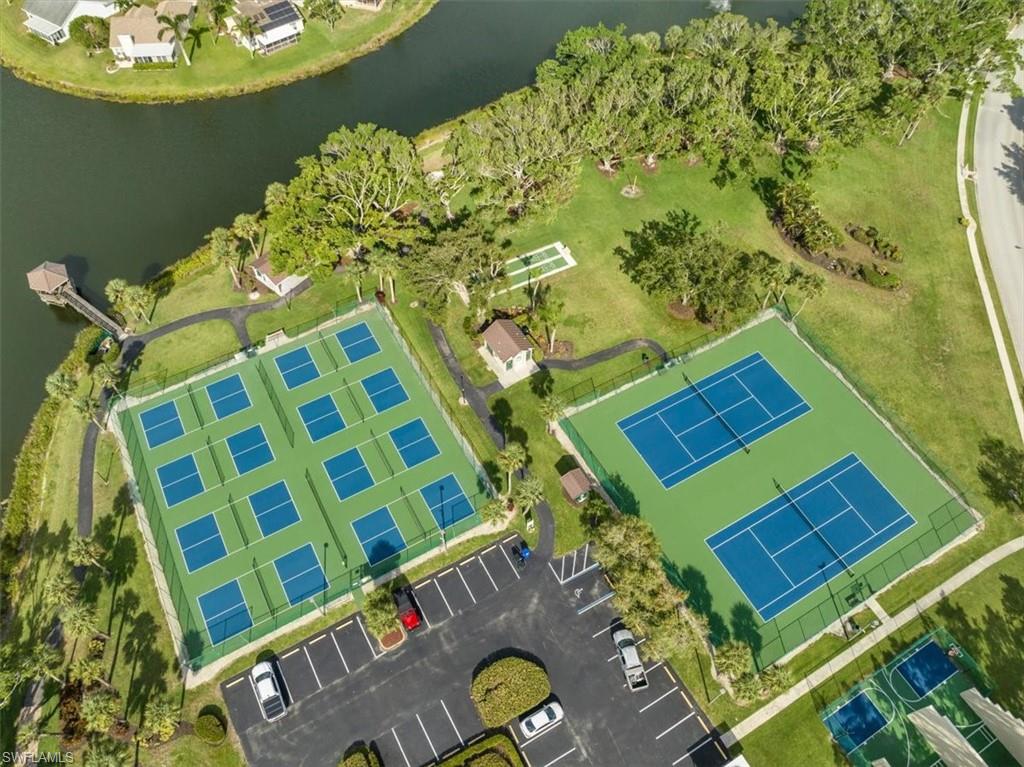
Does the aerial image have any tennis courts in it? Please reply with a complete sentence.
Yes, a tennis court can be made out from above.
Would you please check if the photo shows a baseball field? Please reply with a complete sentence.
No, I can't see a single baseball field in this photo.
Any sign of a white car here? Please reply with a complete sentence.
Yes, this view includes a white car.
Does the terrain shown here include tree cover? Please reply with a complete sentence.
Yes, tree cover can be seen from above here.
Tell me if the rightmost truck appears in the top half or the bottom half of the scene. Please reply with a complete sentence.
The bottom half of the photo is where the rightmost truck is.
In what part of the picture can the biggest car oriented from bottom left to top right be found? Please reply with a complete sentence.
The biggest car oriented from bottom left to top right is located in the bottom region of the scene.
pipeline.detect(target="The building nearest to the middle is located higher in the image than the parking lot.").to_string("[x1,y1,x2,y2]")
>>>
[483,321,533,370]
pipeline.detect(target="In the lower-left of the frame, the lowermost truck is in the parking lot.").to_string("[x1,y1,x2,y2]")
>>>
[251,661,289,723]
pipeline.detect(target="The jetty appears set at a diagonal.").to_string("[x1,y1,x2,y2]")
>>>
[27,262,128,342]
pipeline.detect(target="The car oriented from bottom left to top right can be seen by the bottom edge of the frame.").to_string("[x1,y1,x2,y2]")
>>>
[520,702,565,739]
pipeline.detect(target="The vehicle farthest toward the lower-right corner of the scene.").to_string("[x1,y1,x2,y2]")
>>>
[613,629,650,690]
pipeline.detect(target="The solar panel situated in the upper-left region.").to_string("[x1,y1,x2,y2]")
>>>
[252,0,300,35]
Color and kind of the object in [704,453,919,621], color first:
blue tennis court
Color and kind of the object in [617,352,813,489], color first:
blue tennis court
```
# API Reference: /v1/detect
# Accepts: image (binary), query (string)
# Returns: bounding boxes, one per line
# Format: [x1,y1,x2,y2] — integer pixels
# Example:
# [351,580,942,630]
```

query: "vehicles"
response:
[251,661,289,723]
[520,702,565,739]
[613,629,650,690]
[518,548,529,565]
[392,590,419,629]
